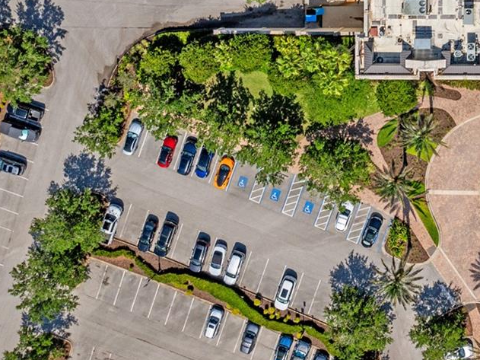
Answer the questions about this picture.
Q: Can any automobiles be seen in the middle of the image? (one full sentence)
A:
Yes, an automobile shows up in the middle of the image.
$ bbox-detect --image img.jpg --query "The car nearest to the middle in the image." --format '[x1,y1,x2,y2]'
[215,156,236,188]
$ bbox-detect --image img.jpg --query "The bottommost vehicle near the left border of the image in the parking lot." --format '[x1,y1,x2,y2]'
[0,152,29,175]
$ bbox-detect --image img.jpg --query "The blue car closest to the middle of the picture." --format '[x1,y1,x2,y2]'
[195,145,216,181]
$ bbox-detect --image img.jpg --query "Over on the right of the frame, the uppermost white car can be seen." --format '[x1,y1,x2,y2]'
[335,198,355,233]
